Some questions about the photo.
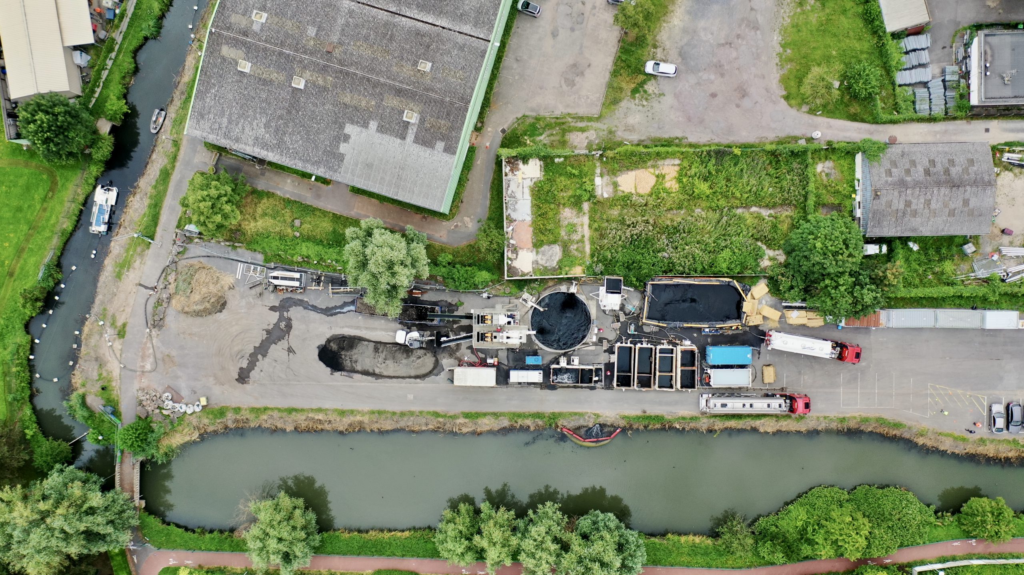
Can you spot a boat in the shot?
Yes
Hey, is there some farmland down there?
No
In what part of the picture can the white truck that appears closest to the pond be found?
right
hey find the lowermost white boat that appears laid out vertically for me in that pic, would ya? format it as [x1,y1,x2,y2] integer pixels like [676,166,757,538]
[89,182,119,235]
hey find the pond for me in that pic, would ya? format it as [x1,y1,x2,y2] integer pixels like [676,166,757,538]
[641,277,750,328]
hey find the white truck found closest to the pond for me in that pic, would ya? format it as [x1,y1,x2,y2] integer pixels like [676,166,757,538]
[760,329,863,364]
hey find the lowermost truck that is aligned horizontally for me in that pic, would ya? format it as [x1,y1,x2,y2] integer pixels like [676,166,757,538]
[696,393,812,415]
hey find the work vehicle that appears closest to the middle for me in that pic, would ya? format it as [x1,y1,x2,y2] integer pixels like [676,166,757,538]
[397,330,435,349]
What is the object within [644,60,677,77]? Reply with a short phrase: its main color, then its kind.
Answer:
white car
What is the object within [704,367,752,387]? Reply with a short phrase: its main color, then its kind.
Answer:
white water tank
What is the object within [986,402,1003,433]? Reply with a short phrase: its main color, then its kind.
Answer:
white car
